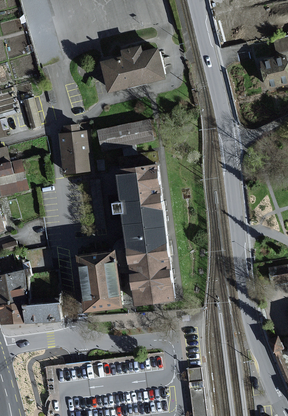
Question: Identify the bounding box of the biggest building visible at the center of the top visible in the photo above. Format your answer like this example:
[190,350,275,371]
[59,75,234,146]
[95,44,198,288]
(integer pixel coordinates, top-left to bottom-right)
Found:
[101,46,168,92]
